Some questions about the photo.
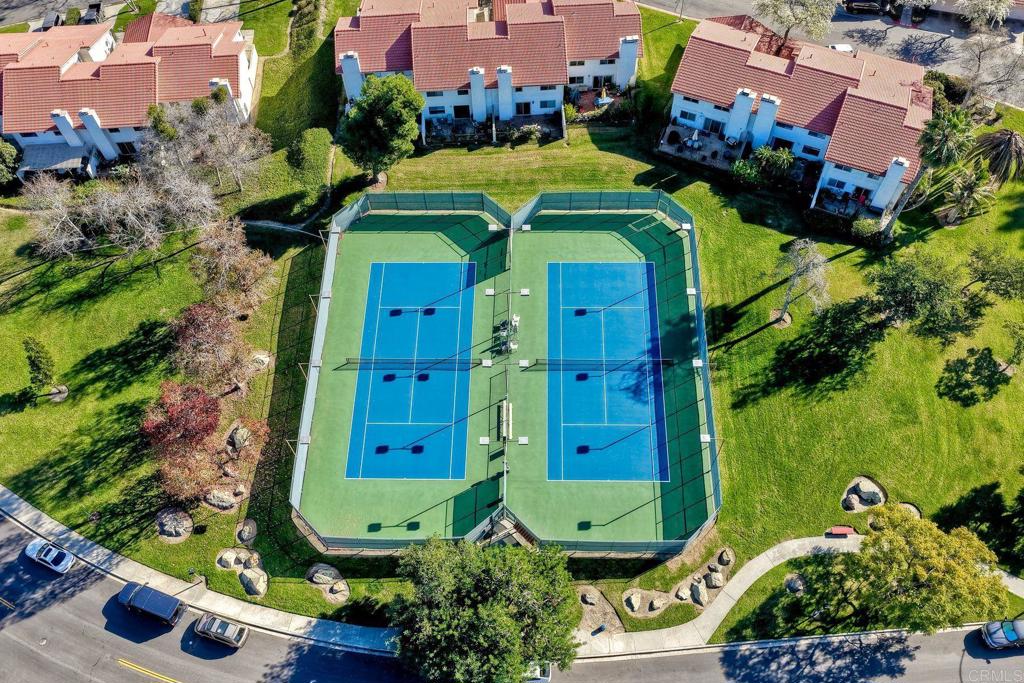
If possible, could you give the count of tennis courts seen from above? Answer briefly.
2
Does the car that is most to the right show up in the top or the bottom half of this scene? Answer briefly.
bottom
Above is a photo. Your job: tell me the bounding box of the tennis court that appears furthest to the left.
[299,211,512,562]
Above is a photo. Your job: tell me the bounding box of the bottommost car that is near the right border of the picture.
[981,618,1024,648]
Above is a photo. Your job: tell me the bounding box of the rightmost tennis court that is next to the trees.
[506,210,716,564]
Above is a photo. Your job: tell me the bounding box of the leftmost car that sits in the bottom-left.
[24,539,80,575]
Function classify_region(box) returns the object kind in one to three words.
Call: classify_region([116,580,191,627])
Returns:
truck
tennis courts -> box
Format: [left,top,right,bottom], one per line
[506,210,716,564]
[299,211,512,562]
